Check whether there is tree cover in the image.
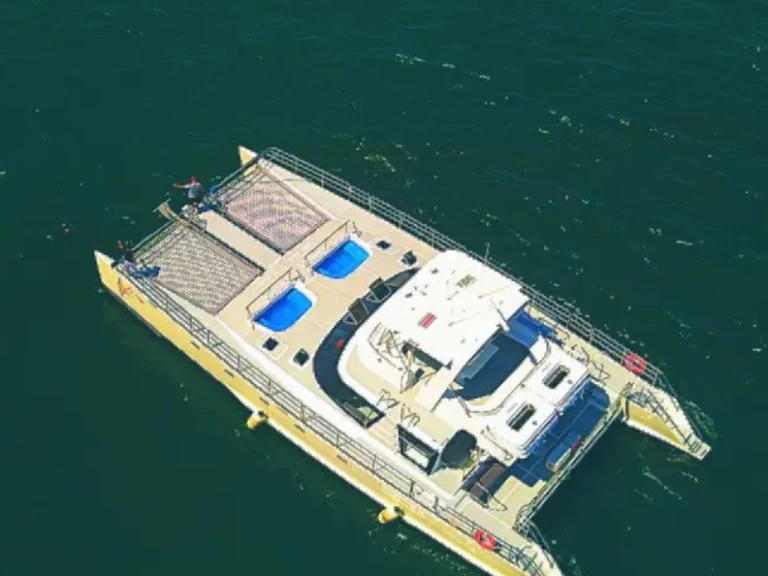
No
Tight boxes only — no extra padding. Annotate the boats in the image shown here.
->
[97,144,712,576]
